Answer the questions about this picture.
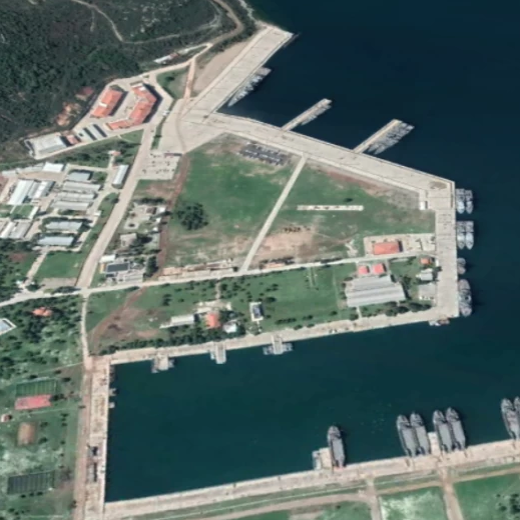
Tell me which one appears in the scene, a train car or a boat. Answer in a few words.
boat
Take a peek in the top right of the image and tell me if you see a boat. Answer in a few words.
Yes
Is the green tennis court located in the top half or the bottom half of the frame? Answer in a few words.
bottom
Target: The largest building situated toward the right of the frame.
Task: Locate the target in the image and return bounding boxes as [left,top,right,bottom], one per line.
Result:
[346,277,406,312]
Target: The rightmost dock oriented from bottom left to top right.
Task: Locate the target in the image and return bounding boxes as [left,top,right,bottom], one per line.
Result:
[354,119,401,153]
